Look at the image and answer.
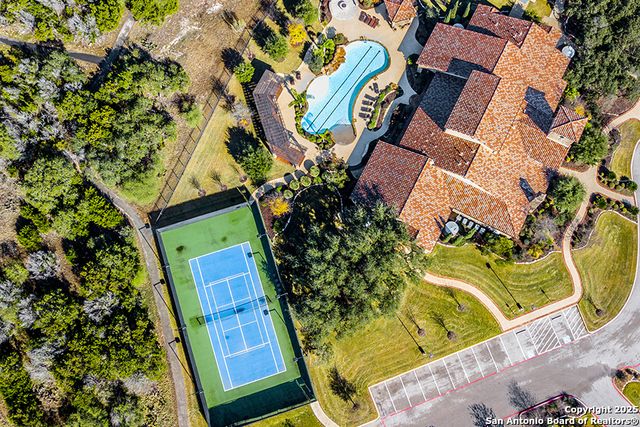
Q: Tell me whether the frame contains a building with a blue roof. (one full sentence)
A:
No, there isn't any building with a blue roof down there.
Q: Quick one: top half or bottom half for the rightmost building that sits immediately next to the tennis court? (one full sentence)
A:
Seen from above, the rightmost building that sits immediately next to the tennis court lies in the top half of the view.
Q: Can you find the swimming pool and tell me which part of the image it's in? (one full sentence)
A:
The swimming pool is in the top part of the image.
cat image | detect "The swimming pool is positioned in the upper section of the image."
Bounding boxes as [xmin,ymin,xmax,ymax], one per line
[300,38,391,144]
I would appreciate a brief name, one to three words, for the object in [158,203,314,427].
tennis court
